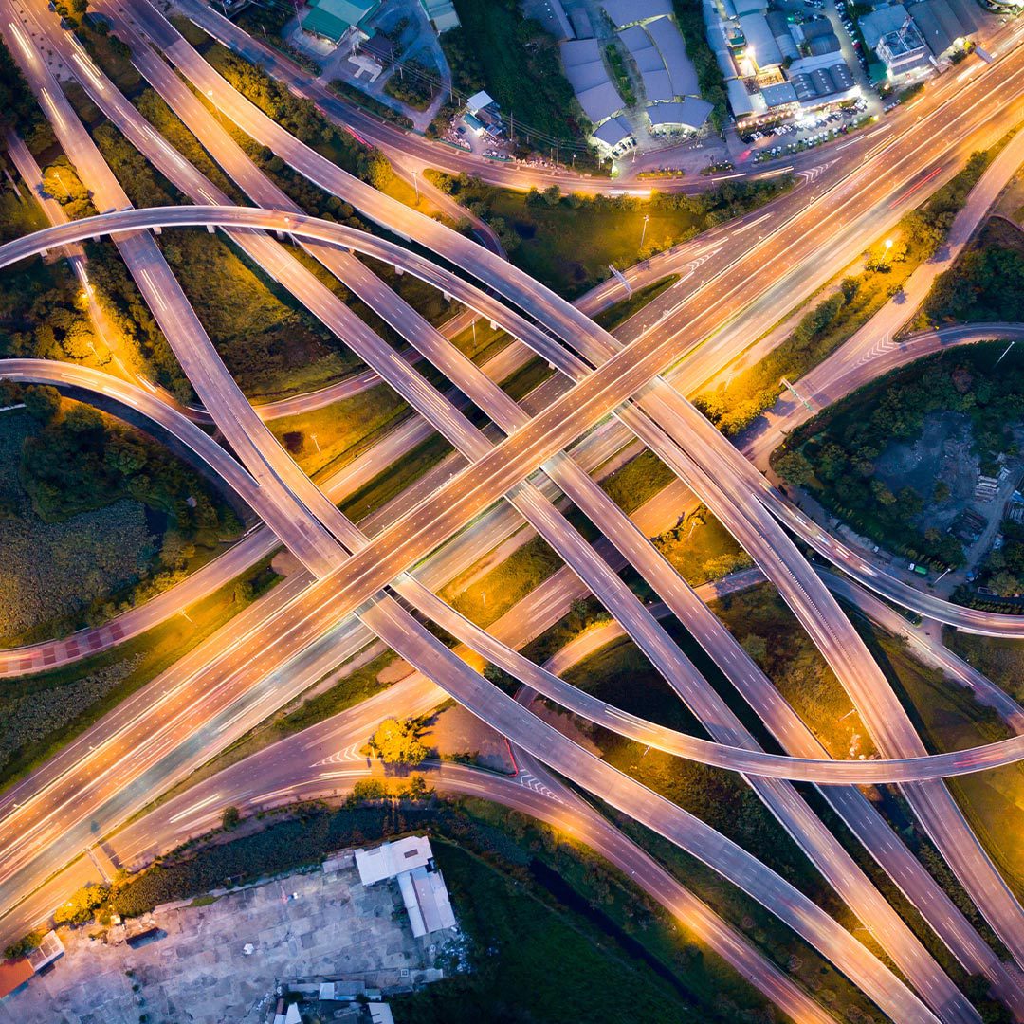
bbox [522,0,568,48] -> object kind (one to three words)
building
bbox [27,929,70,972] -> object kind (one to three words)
shed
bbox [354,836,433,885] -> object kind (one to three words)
building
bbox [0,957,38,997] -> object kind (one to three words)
shed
